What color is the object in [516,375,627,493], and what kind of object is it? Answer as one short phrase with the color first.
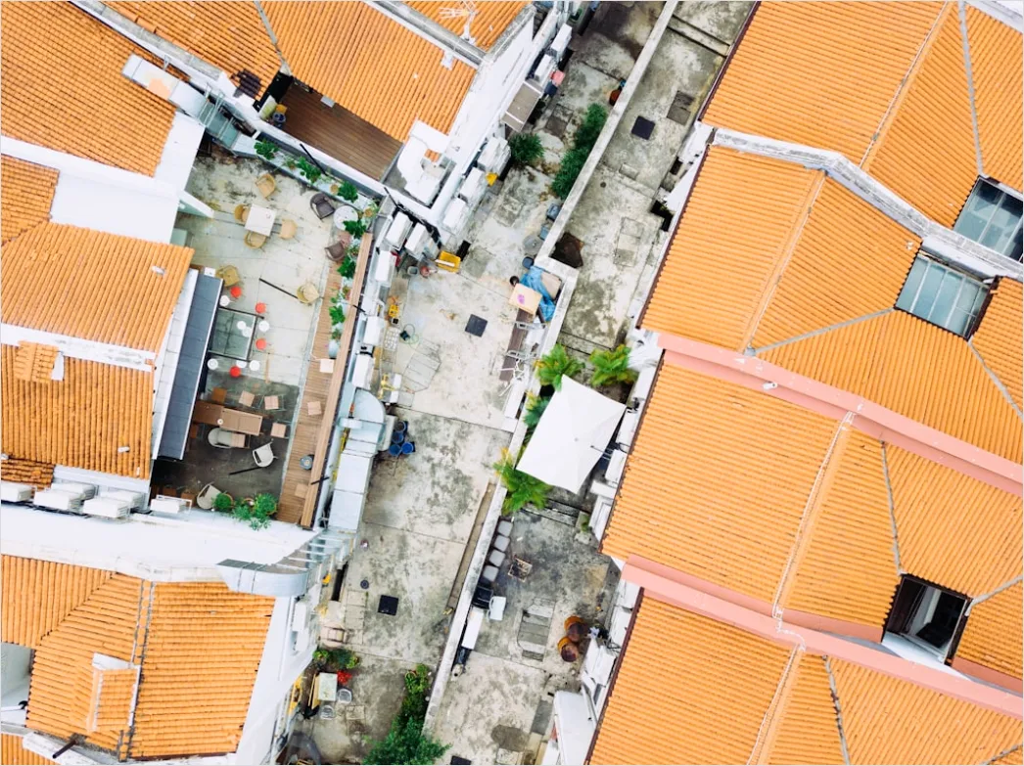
white umbrella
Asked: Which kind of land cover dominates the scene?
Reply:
buildings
